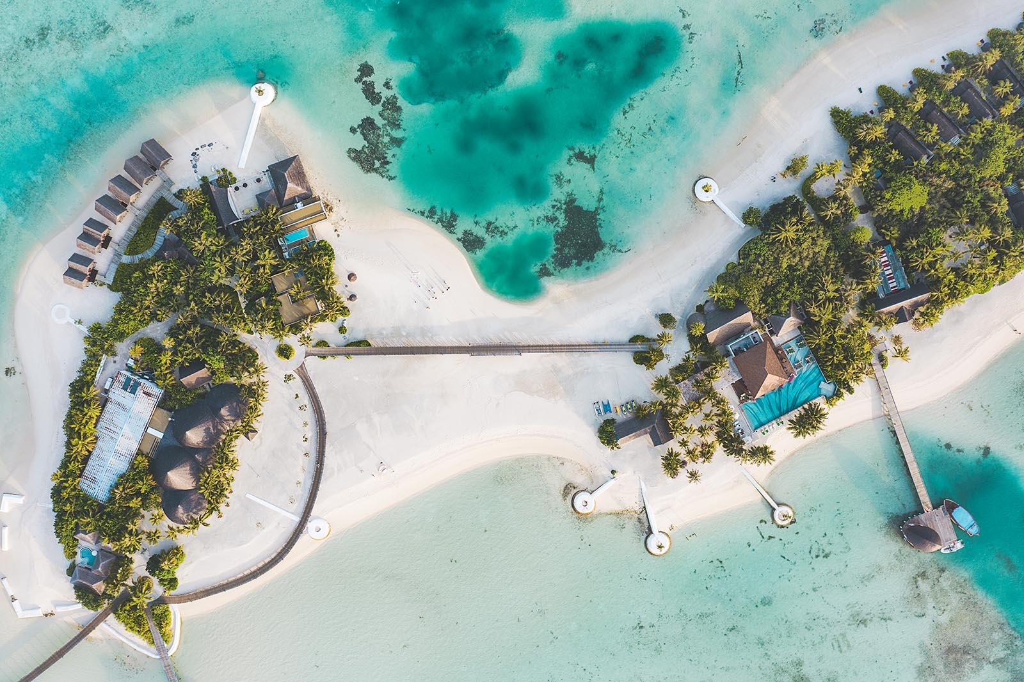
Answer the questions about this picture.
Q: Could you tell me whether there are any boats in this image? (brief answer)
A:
Yes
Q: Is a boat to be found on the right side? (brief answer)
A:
Yes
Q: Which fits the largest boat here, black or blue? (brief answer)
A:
blue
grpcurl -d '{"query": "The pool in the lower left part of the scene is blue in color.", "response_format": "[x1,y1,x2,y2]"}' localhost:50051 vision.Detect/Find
[79,545,97,567]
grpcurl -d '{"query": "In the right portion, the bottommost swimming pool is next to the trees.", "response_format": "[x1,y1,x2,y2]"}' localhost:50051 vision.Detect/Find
[739,335,827,430]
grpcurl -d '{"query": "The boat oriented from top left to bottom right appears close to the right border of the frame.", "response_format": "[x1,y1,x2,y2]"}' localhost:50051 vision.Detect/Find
[944,500,981,538]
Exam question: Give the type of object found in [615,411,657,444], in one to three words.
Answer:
house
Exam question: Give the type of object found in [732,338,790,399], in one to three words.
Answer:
building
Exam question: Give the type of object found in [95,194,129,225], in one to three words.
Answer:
shed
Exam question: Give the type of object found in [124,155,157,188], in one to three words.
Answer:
shed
